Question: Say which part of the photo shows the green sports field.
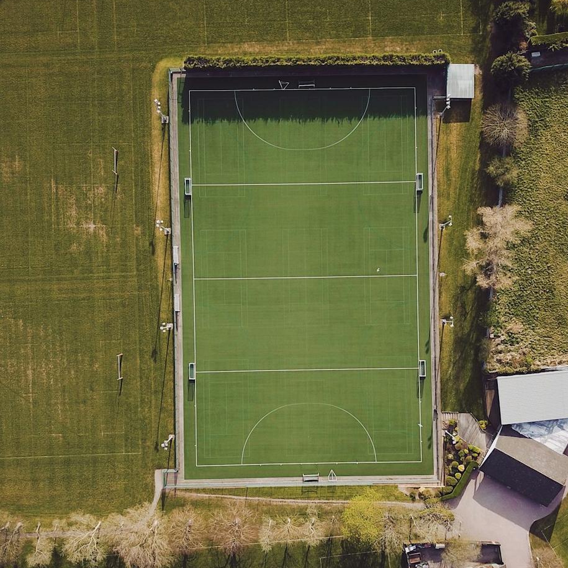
center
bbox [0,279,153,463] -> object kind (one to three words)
sports field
